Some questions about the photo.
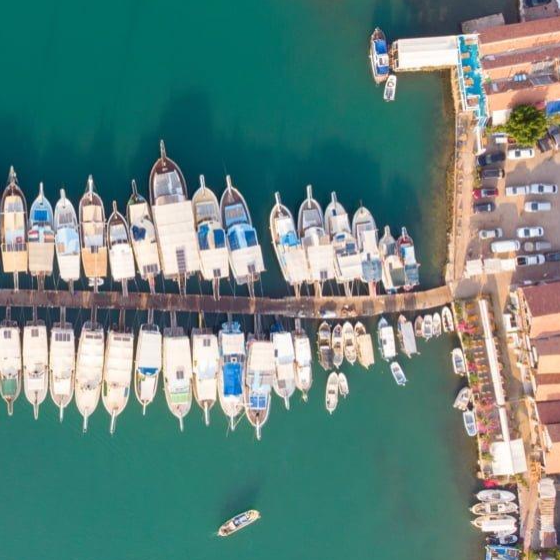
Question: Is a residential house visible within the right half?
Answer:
Yes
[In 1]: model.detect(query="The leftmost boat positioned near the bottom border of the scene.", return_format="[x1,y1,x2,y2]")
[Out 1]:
[218,512,259,536]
